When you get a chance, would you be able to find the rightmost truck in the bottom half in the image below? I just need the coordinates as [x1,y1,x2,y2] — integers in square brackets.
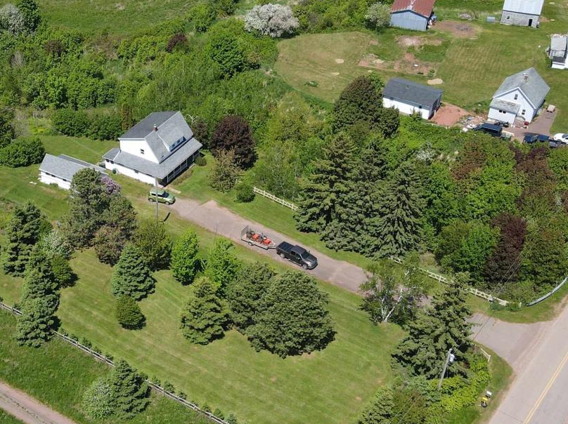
[277,243,320,270]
